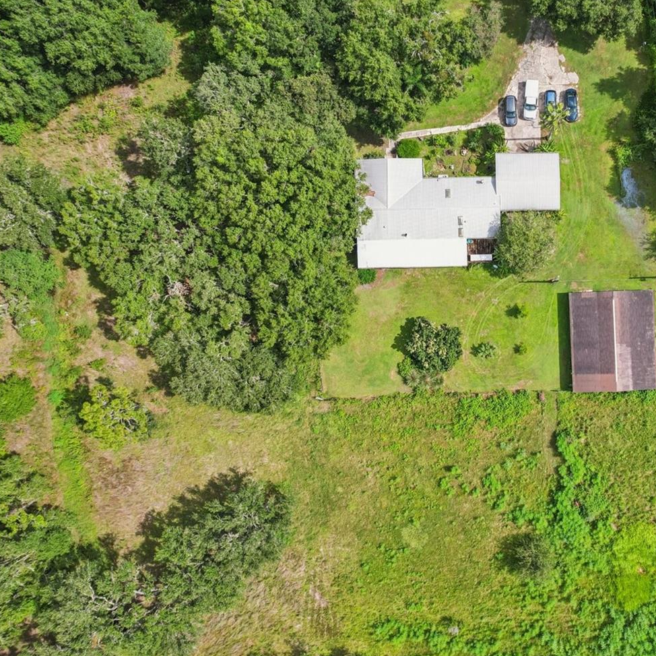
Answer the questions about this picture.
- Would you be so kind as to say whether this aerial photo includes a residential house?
Yes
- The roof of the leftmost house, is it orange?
No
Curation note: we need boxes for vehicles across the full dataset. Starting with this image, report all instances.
[544,92,558,122]
[523,78,539,121]
[565,88,579,123]
[503,95,518,127]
